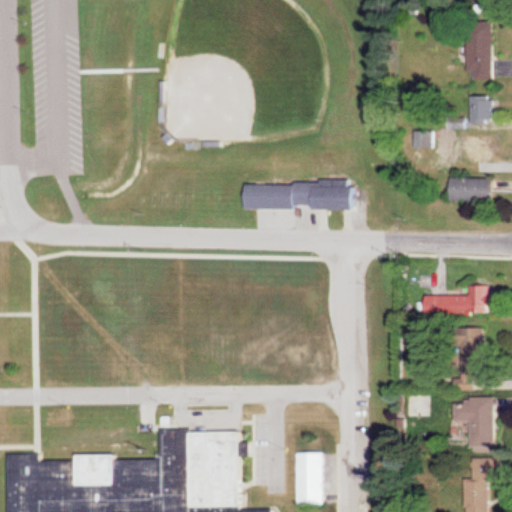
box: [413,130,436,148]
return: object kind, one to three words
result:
shed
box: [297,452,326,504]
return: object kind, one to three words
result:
building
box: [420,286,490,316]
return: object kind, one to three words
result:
house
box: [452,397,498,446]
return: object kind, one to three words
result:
house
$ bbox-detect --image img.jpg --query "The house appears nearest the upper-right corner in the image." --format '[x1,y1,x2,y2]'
[466,22,496,80]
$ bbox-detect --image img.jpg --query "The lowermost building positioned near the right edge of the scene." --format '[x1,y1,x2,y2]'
[463,459,494,512]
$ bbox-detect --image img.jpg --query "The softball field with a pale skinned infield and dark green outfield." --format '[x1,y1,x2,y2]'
[160,0,326,142]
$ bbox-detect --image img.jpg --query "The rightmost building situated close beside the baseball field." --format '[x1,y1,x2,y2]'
[242,178,356,210]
